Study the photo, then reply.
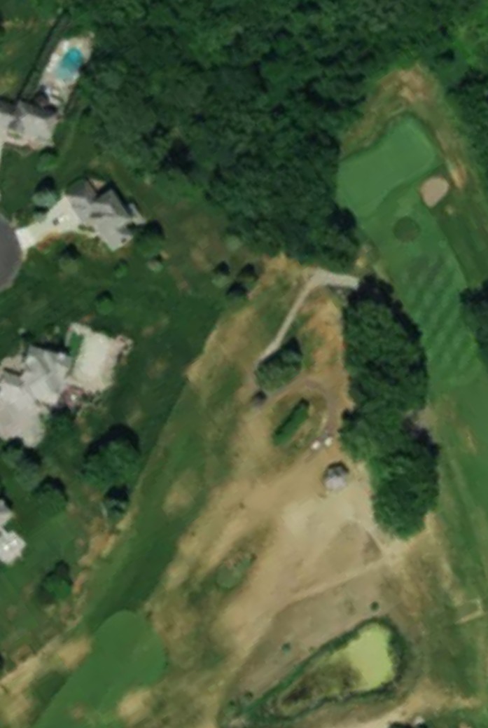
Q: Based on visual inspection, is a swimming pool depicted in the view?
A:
Yes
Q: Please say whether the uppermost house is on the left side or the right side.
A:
left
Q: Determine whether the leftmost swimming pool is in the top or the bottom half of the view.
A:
top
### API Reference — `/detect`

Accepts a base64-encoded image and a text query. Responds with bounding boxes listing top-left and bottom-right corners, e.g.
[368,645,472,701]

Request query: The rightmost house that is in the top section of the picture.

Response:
[62,177,136,252]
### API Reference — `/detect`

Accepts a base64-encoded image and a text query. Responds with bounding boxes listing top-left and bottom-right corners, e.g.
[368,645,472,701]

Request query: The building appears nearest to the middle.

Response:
[326,467,346,487]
